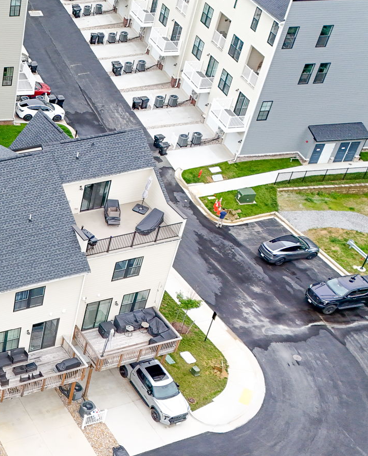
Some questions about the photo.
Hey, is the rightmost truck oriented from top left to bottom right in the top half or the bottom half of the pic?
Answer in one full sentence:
The rightmost truck oriented from top left to bottom right sits in the bottom half of the picture.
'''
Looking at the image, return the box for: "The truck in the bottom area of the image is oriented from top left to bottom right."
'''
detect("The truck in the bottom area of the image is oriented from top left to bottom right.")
[118,358,192,427]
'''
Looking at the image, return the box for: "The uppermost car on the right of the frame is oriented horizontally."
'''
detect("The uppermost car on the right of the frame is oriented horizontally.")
[261,232,325,264]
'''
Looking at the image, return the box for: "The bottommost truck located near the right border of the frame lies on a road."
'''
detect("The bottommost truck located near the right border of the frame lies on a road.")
[305,272,368,311]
